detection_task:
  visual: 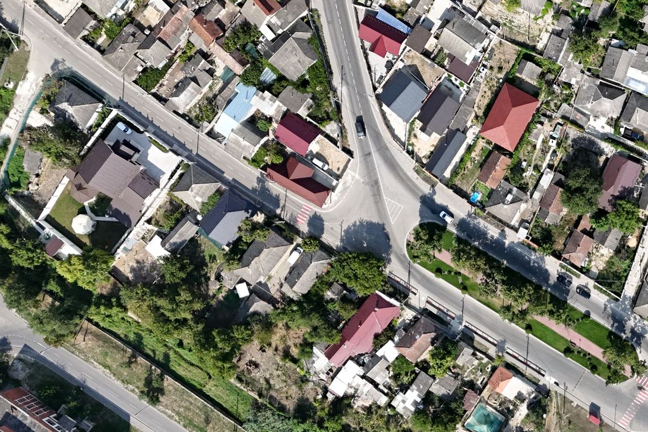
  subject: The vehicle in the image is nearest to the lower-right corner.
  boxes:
[575,283,592,298]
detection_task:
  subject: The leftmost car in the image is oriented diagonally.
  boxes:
[116,119,134,135]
